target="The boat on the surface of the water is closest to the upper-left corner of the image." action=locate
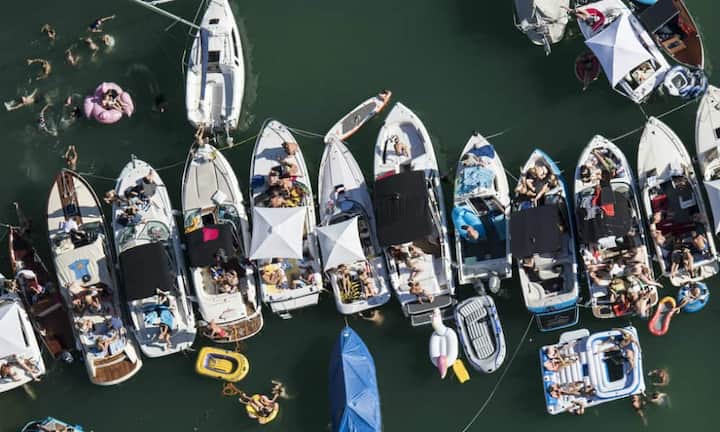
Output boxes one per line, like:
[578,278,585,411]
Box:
[124,0,247,144]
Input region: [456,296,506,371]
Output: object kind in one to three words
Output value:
boat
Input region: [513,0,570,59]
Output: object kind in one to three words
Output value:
boat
